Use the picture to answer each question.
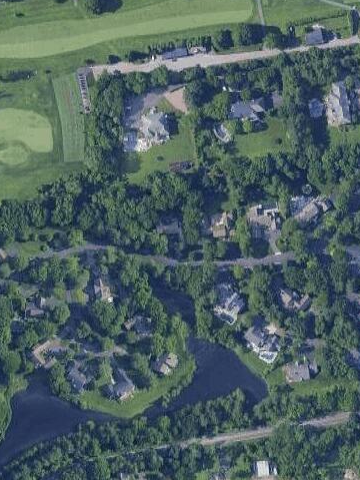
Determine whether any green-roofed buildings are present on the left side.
No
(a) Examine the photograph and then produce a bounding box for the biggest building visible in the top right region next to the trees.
[326,81,354,127]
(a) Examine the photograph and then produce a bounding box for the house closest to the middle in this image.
[154,216,178,234]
